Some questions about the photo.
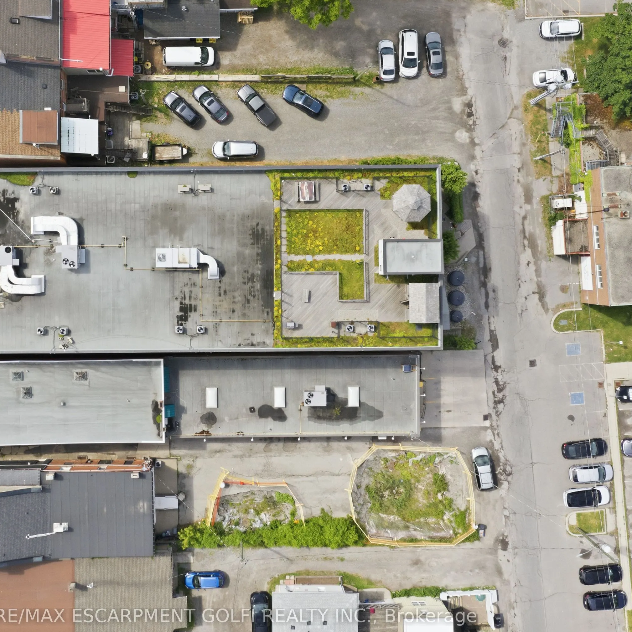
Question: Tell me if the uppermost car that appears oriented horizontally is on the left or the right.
right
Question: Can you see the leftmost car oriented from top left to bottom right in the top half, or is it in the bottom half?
top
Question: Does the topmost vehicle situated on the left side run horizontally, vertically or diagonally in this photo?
horizontally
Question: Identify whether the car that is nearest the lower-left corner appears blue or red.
blue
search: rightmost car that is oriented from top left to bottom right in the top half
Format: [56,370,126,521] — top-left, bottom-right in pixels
[281,82,327,121]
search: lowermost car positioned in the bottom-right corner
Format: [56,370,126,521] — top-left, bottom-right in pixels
[580,586,626,611]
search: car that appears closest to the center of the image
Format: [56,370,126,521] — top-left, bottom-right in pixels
[211,139,258,161]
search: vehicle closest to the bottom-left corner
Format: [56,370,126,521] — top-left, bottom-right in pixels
[183,567,226,591]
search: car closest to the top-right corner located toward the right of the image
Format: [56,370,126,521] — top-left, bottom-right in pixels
[534,16,584,41]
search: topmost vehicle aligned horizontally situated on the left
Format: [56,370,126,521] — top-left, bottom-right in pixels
[161,45,215,68]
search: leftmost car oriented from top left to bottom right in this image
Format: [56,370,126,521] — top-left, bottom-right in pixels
[163,88,203,132]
